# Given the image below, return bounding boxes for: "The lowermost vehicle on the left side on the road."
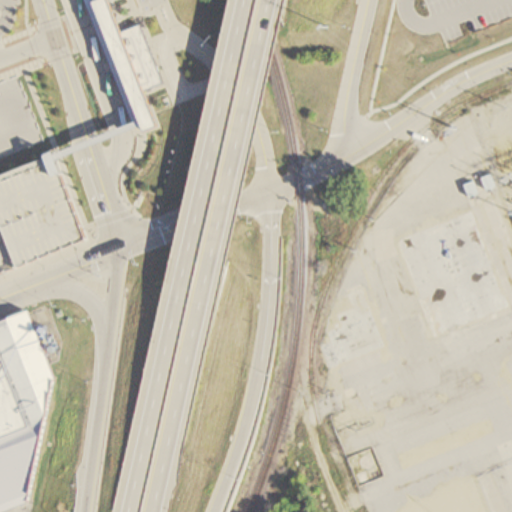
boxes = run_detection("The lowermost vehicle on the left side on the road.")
[88,241,122,258]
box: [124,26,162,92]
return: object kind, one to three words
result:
building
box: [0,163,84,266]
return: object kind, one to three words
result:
building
